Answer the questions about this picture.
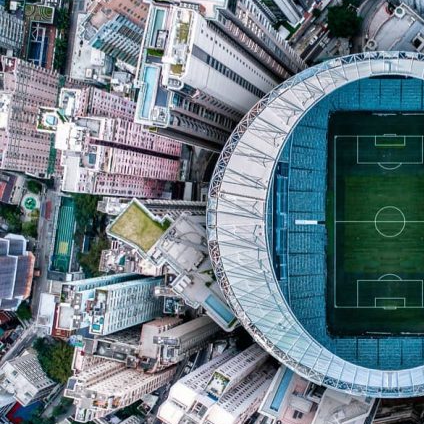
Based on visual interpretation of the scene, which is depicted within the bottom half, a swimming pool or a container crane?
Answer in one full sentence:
Visible within the bottom half is a swimming pool.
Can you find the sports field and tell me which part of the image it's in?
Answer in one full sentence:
Look in the right portion of the view to spot the sports field.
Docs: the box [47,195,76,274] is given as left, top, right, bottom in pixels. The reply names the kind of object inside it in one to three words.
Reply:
sports court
